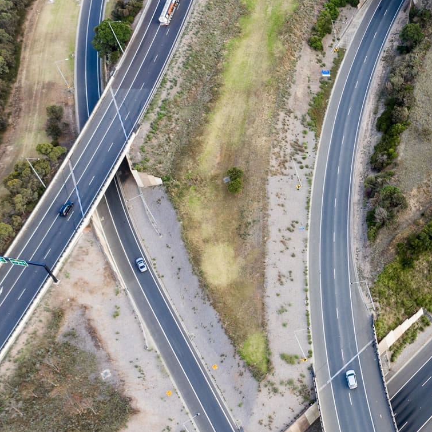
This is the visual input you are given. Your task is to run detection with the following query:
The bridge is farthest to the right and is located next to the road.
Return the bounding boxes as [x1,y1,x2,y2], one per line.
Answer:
[306,304,400,432]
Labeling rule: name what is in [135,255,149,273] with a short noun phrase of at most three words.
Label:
vehicle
